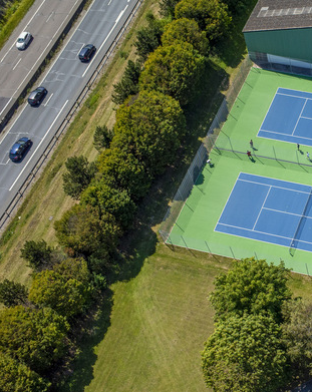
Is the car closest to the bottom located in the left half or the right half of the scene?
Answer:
left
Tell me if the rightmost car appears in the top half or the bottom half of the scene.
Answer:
top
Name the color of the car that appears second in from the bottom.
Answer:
black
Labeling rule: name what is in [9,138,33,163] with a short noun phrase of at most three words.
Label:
car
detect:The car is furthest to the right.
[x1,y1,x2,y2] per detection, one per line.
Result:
[76,44,97,65]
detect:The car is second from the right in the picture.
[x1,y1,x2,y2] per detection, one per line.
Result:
[27,86,49,109]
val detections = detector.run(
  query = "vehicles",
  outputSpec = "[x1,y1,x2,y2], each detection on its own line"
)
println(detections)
[16,32,33,50]
[76,44,97,65]
[9,138,33,163]
[27,86,49,109]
